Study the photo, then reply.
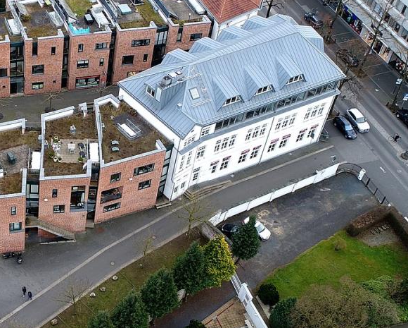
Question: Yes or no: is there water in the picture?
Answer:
No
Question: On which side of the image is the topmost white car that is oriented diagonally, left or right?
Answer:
right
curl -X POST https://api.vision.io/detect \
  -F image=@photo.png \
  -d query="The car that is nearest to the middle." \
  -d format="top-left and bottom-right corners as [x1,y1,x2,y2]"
[216,216,247,236]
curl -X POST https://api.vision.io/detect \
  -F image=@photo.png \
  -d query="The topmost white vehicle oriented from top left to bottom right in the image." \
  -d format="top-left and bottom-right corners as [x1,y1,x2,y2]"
[345,107,373,130]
